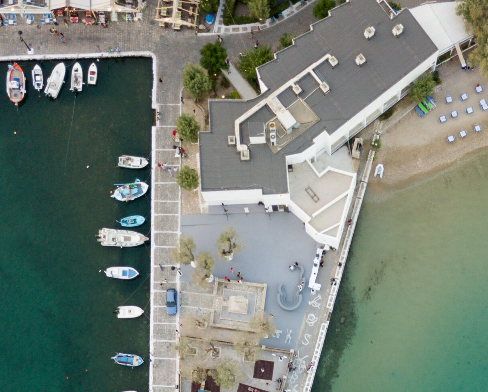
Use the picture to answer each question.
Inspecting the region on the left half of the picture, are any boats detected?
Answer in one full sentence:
Yes, a boat can be seen on the left half of the picture.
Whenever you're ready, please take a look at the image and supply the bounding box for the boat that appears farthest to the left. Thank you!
[6,62,28,108]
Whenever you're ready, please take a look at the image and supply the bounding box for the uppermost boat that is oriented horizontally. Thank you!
[117,156,150,169]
